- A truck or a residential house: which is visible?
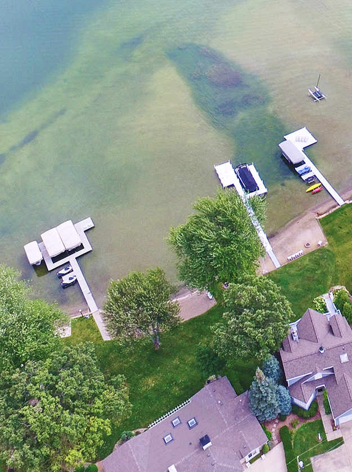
residential house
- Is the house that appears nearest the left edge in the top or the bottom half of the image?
bottom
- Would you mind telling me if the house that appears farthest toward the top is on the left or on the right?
right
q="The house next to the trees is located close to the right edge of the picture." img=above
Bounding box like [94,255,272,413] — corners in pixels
[279,290,352,422]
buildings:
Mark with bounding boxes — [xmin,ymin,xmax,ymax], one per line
[279,290,352,422]
[102,376,269,472]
